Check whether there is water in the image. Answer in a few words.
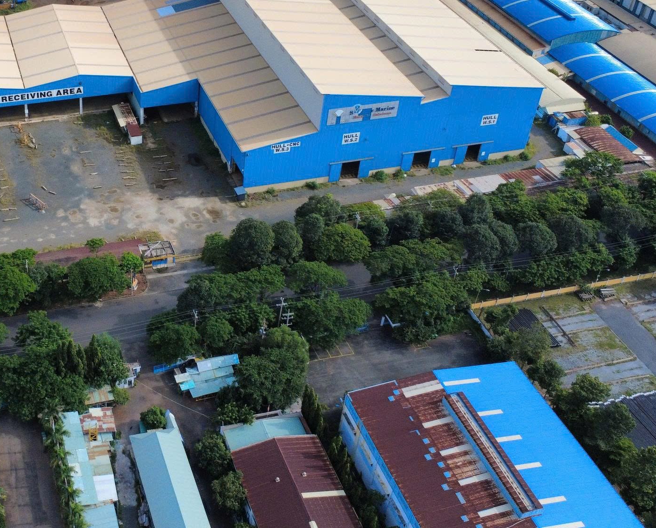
No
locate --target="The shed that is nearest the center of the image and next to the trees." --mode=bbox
[373,196,401,216]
